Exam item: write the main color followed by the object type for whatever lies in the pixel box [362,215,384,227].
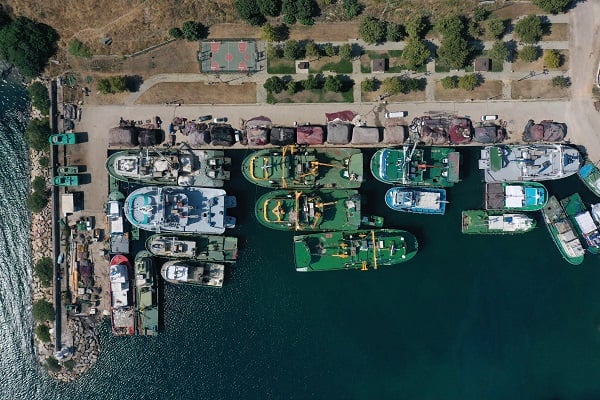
green boat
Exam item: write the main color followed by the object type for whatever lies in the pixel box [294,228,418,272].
green boat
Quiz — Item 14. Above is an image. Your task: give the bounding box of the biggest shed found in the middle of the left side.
[62,194,78,218]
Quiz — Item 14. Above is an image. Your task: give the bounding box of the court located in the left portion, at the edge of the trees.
[200,40,257,73]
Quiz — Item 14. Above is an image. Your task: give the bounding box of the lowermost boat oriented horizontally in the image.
[161,260,226,288]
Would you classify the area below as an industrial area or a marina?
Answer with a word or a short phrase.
marina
